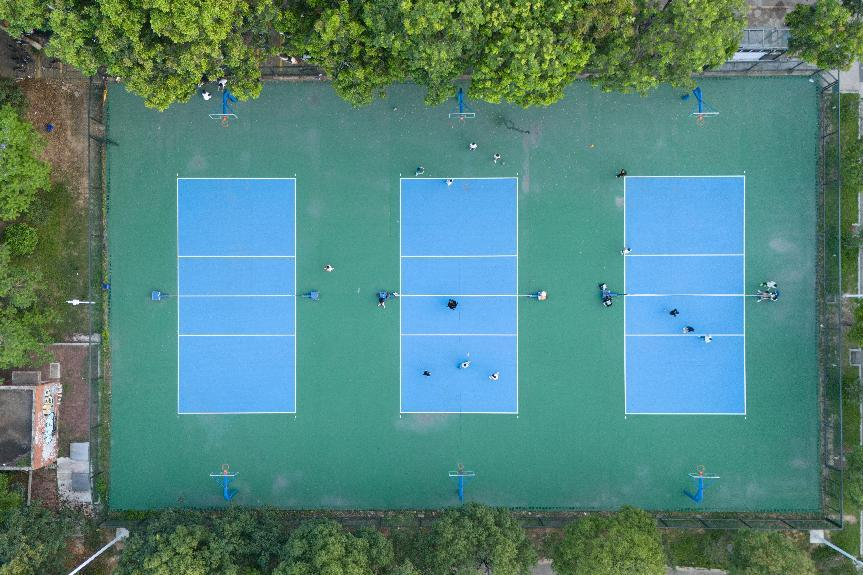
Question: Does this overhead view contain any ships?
No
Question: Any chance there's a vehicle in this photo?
No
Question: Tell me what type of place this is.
sports ground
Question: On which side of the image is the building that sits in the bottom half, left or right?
left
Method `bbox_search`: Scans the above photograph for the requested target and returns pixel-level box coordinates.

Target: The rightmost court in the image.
[624,171,747,420]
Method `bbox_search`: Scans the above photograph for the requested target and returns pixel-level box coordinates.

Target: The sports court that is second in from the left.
[400,173,518,417]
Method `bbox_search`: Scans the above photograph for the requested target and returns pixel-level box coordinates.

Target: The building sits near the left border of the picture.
[0,380,59,470]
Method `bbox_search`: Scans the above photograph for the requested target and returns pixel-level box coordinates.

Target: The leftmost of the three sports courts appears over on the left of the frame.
[178,174,296,418]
